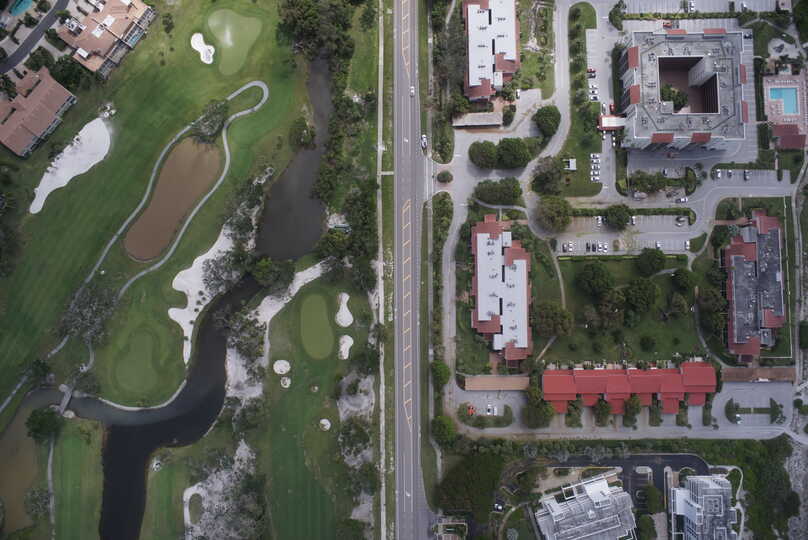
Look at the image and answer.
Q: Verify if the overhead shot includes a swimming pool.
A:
Yes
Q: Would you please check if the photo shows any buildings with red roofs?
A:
Yes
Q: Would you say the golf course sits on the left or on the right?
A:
left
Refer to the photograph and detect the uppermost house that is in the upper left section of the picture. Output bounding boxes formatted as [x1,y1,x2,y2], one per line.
[54,0,156,79]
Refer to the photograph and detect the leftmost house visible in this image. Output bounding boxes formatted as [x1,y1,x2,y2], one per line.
[0,54,80,162]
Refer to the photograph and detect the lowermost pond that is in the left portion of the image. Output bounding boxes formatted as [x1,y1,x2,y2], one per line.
[125,138,221,261]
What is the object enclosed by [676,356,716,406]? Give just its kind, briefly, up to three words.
house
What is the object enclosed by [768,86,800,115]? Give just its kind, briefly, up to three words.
swimming pool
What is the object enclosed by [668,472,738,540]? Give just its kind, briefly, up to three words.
building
